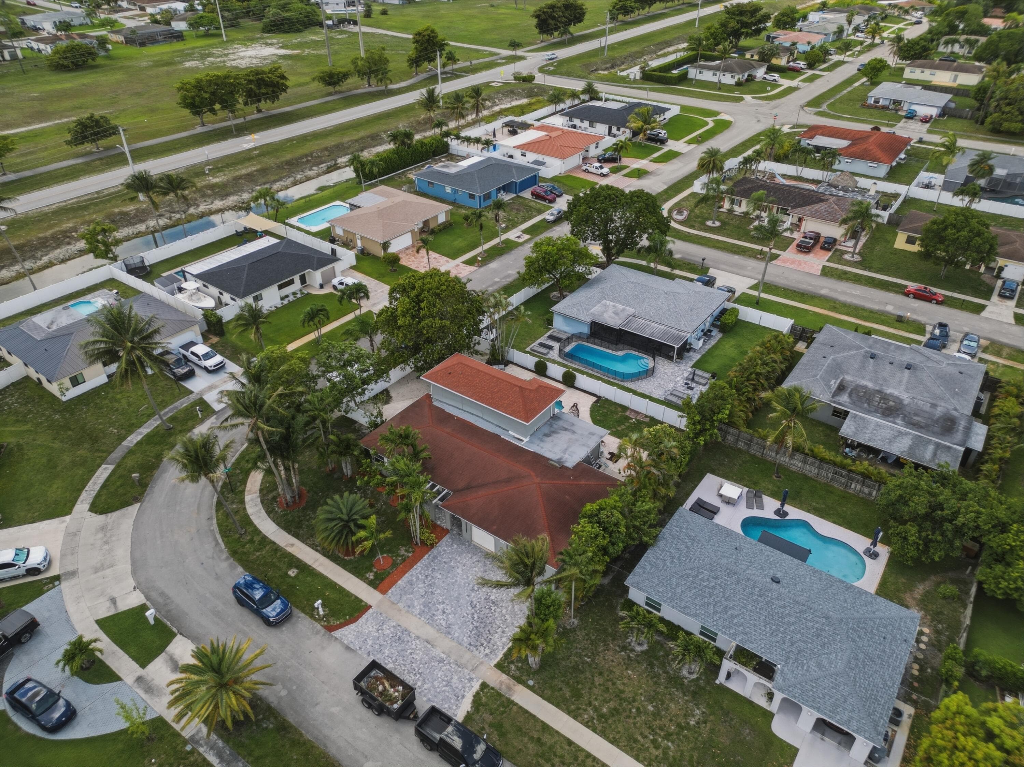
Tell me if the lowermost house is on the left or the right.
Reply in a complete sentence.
The lowermost house sits on the right side.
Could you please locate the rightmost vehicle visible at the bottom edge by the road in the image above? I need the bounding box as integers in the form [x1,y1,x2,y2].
[410,705,507,767]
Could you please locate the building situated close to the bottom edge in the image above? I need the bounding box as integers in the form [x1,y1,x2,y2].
[621,509,922,767]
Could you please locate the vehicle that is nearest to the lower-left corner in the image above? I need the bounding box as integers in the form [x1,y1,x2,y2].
[1,677,80,734]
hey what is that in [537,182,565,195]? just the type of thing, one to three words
vehicle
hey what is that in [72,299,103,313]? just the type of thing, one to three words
swimming pool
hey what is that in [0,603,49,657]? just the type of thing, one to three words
truck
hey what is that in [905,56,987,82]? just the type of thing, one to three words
house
